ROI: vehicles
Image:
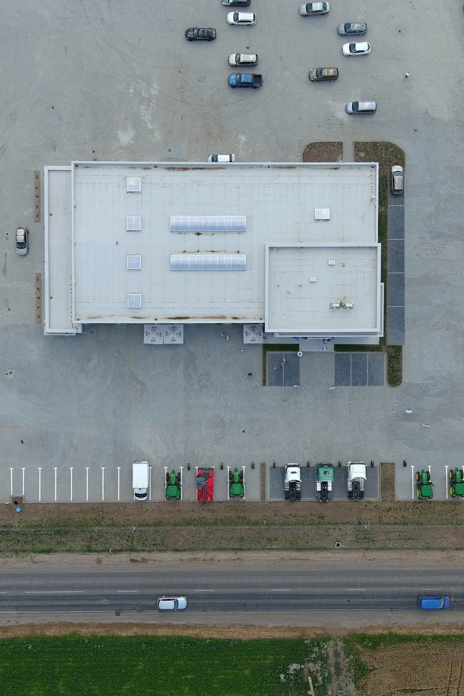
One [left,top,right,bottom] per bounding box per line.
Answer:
[448,466,464,497]
[207,152,236,162]
[228,72,262,88]
[157,596,187,612]
[337,21,368,36]
[222,0,252,7]
[391,166,405,195]
[229,52,258,67]
[348,459,368,499]
[228,466,244,497]
[283,462,303,501]
[414,468,434,500]
[342,41,371,56]
[417,596,450,610]
[185,26,217,41]
[315,462,335,502]
[346,99,376,114]
[299,1,330,16]
[165,468,182,500]
[131,458,149,501]
[310,65,338,81]
[227,10,256,25]
[14,226,29,257]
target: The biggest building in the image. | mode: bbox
[42,153,384,337]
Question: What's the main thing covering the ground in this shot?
paved ground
